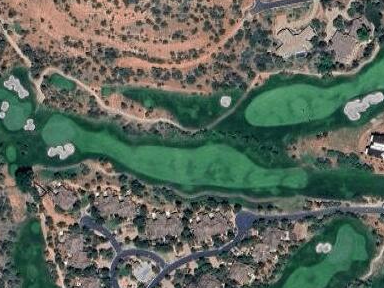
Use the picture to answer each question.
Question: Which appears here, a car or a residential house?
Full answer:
There is a residential house in the scene.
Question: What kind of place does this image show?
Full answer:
It's a golf course.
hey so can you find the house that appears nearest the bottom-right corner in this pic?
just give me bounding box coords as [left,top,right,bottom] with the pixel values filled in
[285,217,312,243]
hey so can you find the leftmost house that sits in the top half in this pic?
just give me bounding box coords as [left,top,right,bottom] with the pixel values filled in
[277,26,316,57]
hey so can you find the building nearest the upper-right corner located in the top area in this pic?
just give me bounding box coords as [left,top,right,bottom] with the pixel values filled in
[328,15,375,62]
